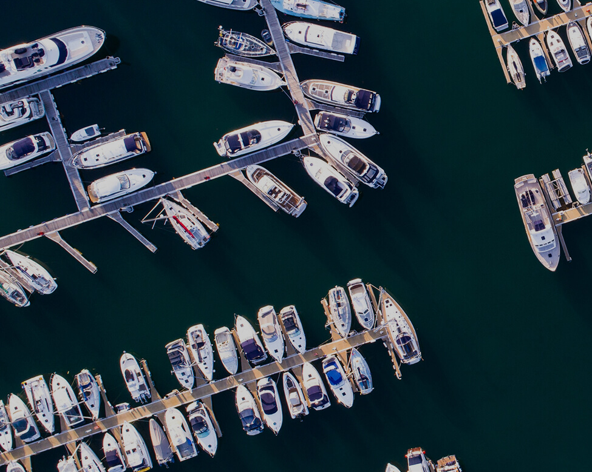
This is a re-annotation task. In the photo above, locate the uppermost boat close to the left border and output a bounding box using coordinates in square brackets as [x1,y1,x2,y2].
[0,27,108,86]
